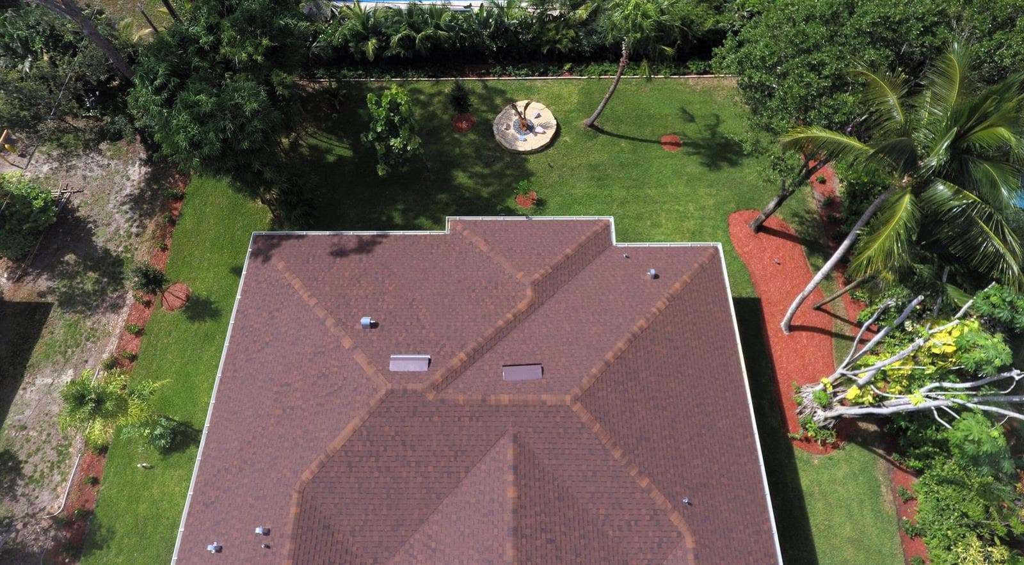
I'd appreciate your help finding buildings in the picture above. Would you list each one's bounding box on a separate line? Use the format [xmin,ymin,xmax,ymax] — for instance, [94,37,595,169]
[168,214,788,565]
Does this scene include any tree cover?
Yes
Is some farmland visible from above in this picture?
No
